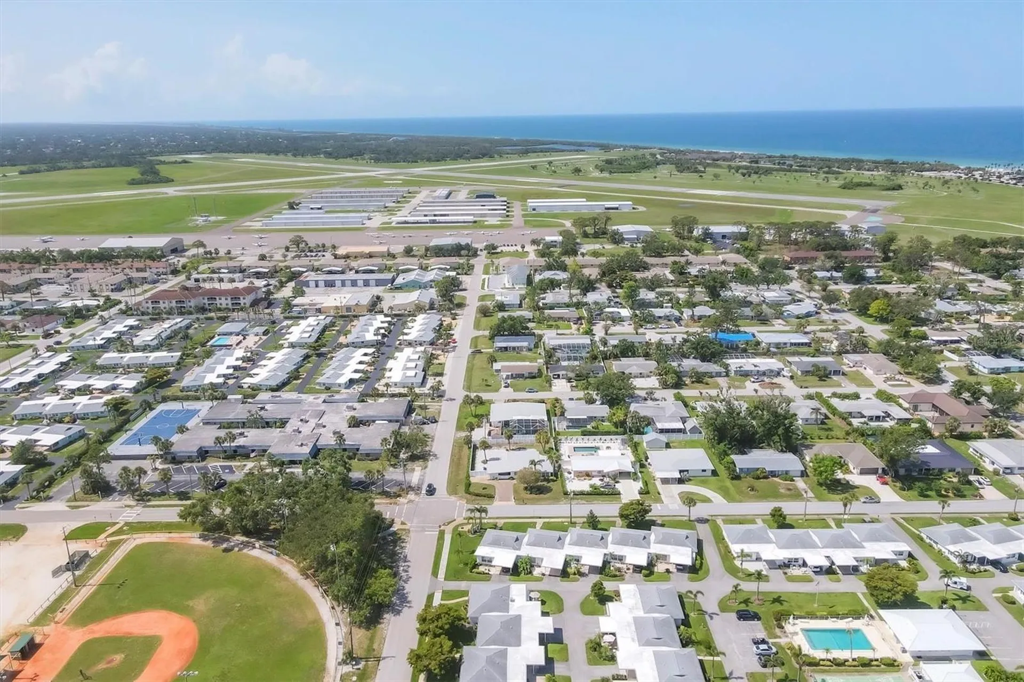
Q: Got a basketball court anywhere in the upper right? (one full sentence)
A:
No, the scene shows no basketball court in the upper right.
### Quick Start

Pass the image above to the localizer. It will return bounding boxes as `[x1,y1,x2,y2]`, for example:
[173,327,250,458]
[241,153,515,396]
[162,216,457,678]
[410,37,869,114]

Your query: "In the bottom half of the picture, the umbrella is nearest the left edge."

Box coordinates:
[526,588,543,600]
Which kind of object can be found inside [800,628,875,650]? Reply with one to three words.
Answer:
swimming pool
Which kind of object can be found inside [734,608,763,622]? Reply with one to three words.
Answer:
car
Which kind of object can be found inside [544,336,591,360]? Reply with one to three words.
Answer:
house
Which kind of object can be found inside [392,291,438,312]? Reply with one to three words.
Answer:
building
